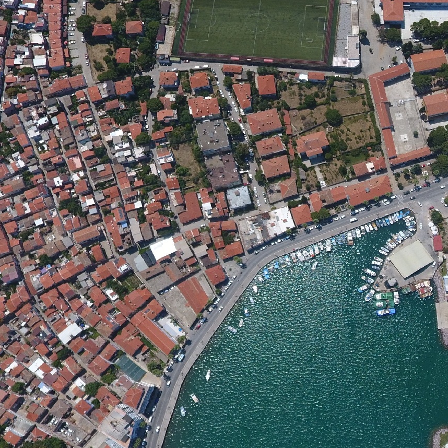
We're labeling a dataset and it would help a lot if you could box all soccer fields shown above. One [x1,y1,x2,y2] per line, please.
[172,0,338,66]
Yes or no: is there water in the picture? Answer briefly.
Yes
